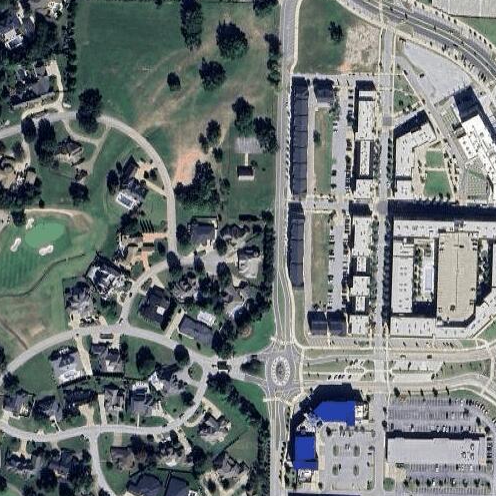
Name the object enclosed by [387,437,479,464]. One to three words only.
building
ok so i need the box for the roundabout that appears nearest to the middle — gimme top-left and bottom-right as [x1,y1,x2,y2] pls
[246,336,301,403]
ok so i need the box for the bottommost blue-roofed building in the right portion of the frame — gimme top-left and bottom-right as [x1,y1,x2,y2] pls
[295,435,317,470]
